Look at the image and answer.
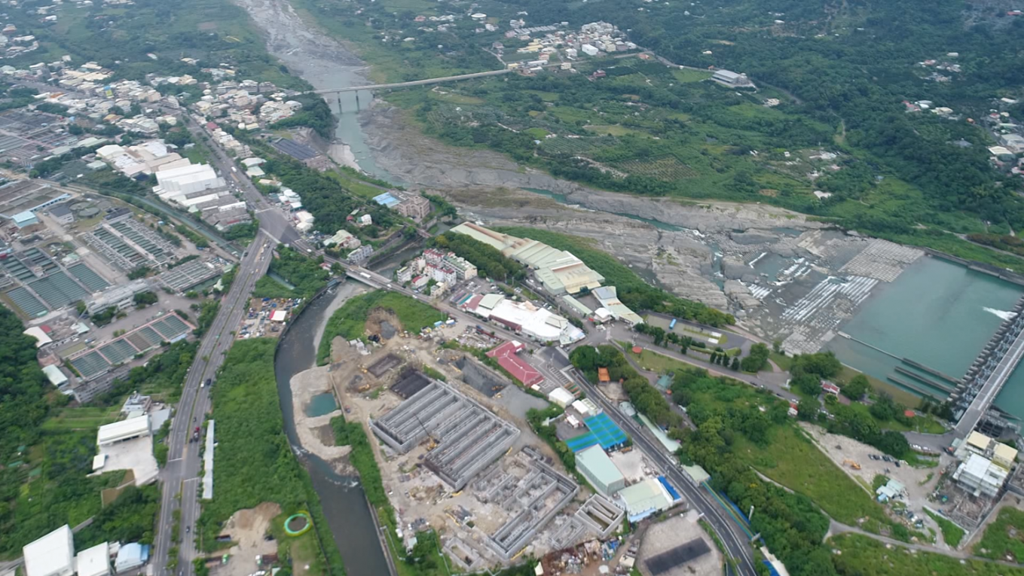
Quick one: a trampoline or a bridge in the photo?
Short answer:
bridge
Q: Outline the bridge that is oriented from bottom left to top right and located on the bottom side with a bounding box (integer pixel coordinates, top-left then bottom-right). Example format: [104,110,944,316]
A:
[957,329,1024,439]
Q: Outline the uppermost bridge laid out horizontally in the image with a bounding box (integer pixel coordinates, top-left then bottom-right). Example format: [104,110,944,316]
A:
[225,67,517,106]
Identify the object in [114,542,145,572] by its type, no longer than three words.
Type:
building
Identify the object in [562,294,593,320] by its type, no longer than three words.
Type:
shed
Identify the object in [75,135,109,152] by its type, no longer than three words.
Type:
building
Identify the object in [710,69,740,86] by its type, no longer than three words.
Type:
house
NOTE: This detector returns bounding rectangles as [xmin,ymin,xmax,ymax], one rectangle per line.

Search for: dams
[950,297,1024,422]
